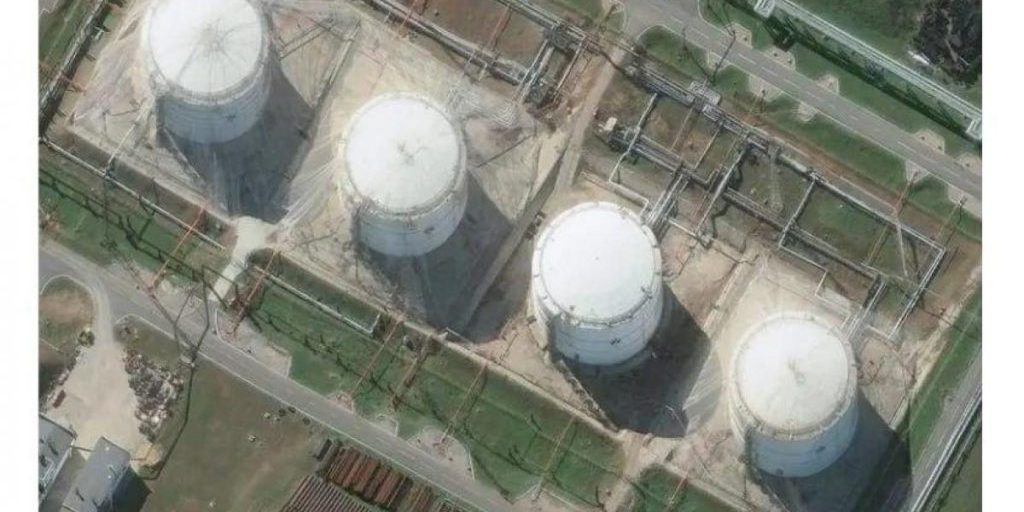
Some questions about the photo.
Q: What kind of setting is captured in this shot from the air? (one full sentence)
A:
The picture captures an industrial area.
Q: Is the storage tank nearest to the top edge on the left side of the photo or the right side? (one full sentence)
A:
The storage tank nearest to the top edge sits on the left side.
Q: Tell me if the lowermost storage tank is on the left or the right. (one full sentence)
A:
The lowermost storage tank sits on the right side.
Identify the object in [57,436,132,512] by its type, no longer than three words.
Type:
building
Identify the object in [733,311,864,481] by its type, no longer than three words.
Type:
storage tank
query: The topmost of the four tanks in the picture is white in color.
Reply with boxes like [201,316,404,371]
[139,0,282,147]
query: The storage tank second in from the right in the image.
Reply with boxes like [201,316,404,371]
[532,200,668,370]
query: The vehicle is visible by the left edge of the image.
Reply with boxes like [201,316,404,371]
[50,387,66,407]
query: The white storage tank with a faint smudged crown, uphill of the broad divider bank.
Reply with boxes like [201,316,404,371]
[340,92,473,259]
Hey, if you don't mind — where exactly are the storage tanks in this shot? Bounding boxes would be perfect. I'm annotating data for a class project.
[340,92,473,259]
[532,200,668,370]
[139,0,282,147]
[733,311,864,481]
